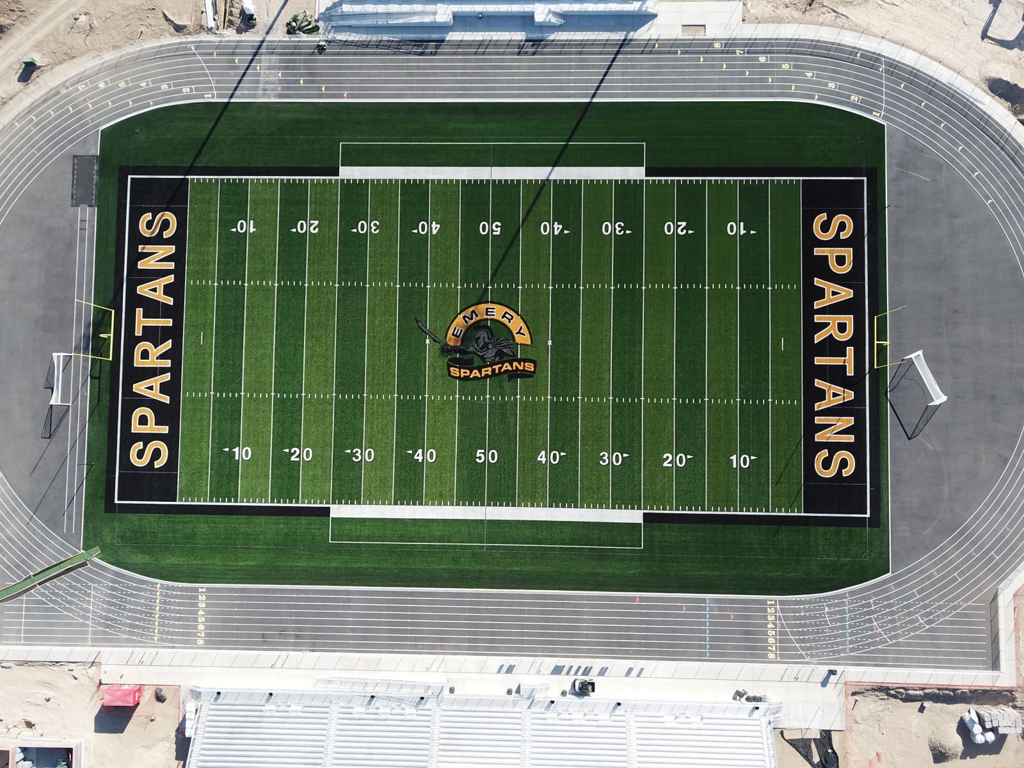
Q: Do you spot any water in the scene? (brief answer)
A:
No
